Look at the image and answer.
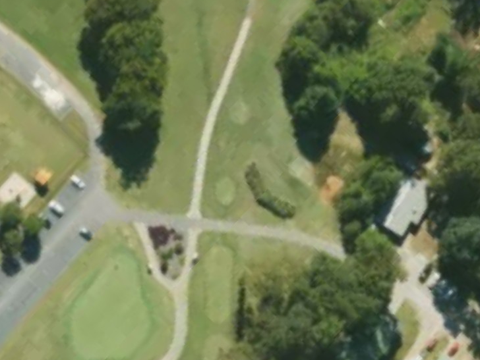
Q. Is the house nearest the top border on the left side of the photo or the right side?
right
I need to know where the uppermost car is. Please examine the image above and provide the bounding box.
[70,175,85,189]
